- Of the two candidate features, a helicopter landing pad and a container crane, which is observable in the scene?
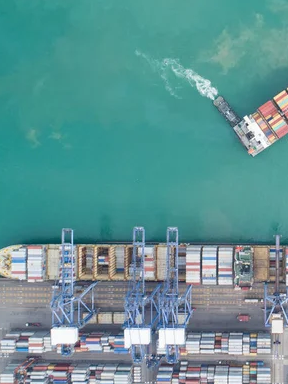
container crane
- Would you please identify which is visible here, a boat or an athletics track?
boat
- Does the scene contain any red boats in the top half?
No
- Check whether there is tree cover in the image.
No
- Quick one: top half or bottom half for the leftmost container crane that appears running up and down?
bottom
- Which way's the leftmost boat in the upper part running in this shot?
at an angle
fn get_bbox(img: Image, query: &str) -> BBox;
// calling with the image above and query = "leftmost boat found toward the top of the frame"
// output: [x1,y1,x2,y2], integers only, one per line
[211,97,239,127]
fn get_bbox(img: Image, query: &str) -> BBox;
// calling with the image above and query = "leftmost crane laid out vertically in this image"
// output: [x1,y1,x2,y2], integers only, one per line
[50,227,107,359]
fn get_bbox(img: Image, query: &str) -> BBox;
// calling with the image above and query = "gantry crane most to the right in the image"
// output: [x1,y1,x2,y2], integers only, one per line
[260,235,288,362]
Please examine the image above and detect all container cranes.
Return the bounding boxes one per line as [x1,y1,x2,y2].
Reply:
[260,235,288,362]
[123,226,170,364]
[50,227,107,359]
[14,358,40,384]
[158,226,201,365]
